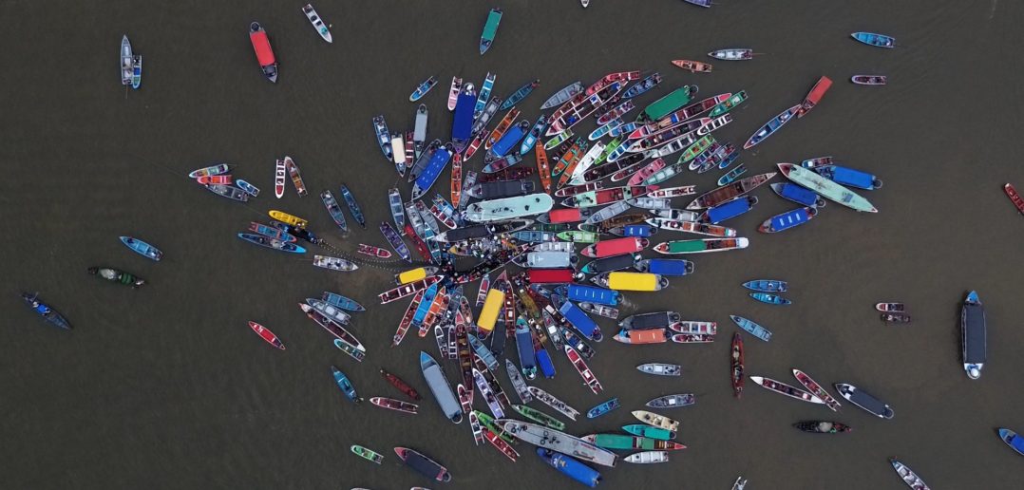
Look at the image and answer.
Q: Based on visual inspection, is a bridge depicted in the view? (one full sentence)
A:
No, there appears to be no bridge in this shot.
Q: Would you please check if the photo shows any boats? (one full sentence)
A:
Yes, the picture does show a boat.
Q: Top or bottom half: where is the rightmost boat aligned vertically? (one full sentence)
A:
The rightmost boat aligned vertically is in the bottom half of the image.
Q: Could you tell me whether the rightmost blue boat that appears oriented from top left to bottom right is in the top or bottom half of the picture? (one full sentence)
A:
It is in the bottom half that the rightmost blue boat that appears oriented from top left to bottom right appears.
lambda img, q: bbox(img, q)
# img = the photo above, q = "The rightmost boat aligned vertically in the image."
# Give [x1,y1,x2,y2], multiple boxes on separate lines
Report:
[961,291,984,374]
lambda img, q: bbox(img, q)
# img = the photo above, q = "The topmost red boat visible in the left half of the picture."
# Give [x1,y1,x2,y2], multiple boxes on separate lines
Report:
[250,25,278,82]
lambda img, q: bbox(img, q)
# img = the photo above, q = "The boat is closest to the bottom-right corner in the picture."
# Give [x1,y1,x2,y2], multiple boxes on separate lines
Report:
[998,428,1024,451]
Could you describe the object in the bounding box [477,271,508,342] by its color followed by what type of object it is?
yellow boat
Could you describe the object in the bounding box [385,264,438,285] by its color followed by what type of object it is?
yellow boat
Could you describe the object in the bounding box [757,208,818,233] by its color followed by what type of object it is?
blue boat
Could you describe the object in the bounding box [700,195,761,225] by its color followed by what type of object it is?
blue boat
